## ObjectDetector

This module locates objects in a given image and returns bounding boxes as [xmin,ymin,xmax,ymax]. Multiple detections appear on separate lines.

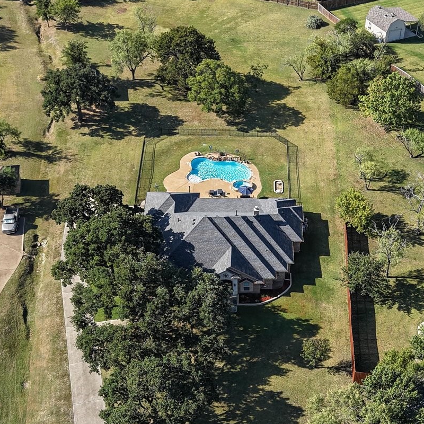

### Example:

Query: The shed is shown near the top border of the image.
[364,1,422,42]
